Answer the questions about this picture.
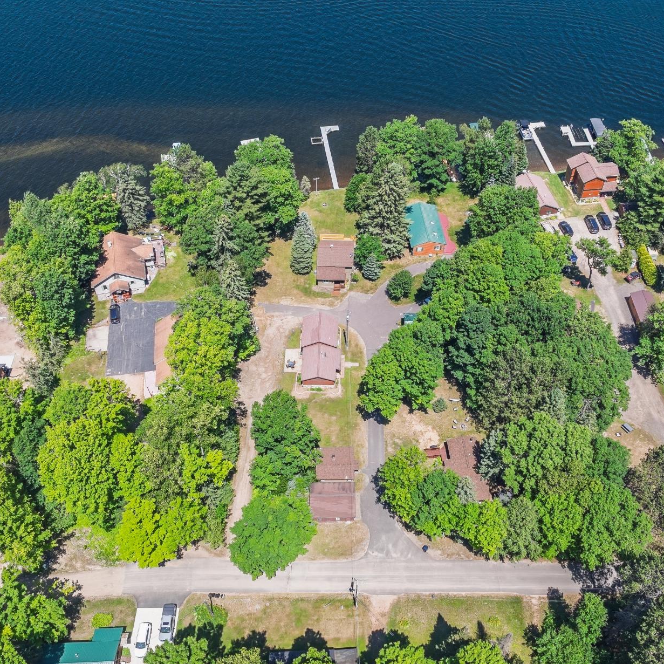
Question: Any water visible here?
Yes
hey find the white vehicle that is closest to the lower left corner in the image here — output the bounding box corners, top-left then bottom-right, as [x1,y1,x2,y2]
[131,622,152,659]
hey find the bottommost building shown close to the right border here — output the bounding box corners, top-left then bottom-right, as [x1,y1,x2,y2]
[629,291,664,333]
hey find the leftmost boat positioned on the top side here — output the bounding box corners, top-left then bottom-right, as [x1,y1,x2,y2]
[517,118,532,140]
